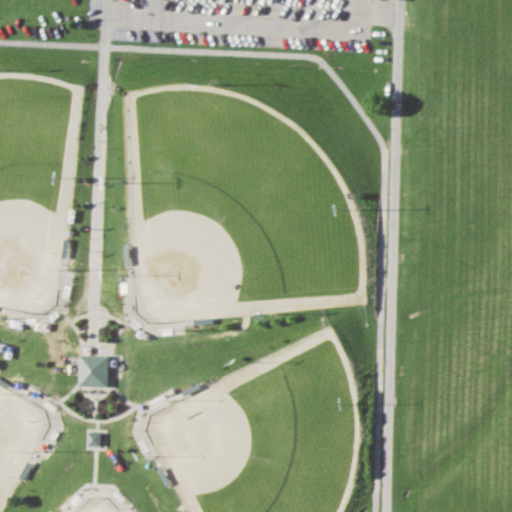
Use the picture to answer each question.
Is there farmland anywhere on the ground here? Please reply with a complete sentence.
Yes, farmland shows up in the scene.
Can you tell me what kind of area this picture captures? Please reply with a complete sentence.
The area seen from above is a sports ground.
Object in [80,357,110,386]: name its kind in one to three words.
building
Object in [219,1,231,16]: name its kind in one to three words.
vehicle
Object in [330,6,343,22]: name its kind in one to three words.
vehicle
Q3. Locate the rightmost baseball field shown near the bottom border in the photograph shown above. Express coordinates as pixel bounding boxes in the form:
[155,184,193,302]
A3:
[147,326,360,512]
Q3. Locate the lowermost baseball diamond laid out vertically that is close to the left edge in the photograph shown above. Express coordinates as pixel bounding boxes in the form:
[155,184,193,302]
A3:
[0,389,48,512]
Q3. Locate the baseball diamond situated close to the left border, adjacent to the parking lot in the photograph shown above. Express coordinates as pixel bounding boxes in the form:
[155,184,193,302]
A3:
[0,72,83,313]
